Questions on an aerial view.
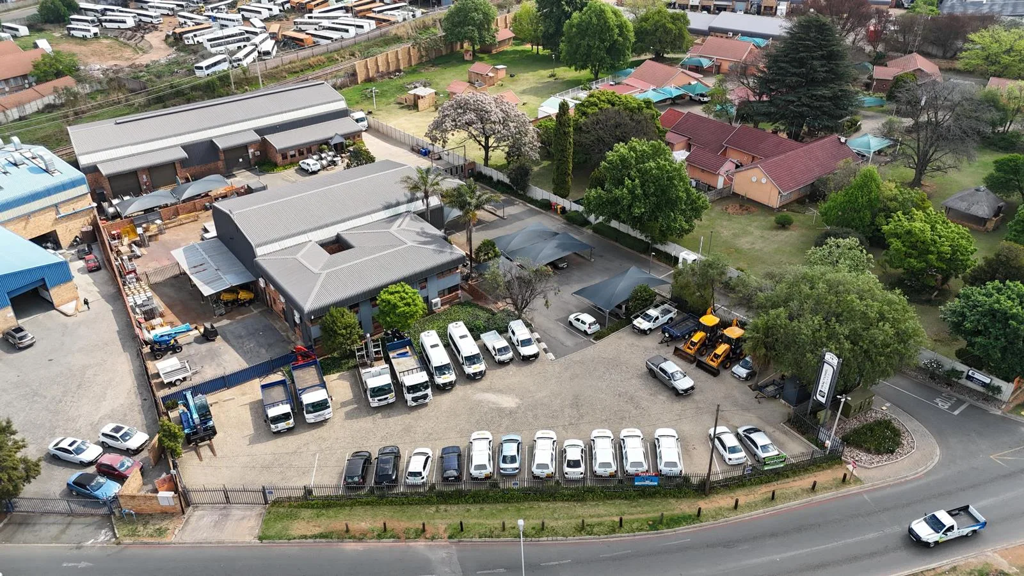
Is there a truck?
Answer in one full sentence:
Yes, the picture does show a truck.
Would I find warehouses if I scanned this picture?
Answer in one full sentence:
Yes, the frame does contain a warehouse.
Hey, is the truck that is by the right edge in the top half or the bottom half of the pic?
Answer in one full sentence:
The bottom half of the photo is where the truck that is by the right edge is.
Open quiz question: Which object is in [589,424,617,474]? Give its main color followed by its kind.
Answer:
white truck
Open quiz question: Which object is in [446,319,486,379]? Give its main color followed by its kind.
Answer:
white vehicle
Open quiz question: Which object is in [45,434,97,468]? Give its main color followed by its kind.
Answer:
white car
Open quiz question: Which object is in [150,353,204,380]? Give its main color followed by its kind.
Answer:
white trailer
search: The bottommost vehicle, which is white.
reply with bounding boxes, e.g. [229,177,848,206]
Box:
[909,503,990,548]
